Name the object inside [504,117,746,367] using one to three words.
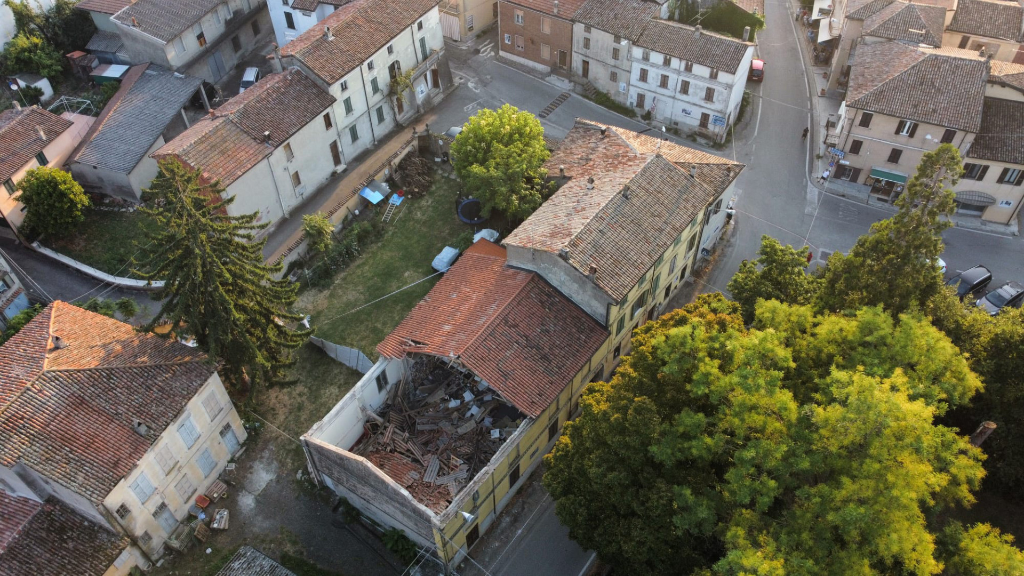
house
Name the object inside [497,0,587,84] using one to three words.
house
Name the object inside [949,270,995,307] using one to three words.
car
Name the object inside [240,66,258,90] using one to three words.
vehicle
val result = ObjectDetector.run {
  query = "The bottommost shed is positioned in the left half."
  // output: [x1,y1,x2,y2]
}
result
[222,544,294,576]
